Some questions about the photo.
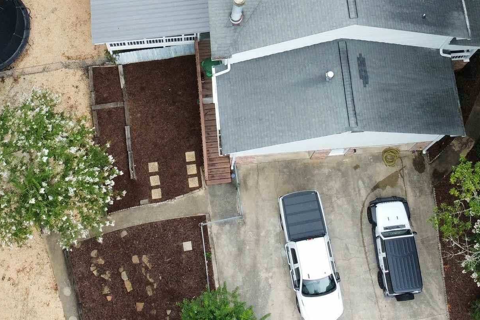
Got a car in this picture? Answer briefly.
Yes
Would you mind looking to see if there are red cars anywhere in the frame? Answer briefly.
No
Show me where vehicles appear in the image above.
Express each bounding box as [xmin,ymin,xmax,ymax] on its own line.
[274,189,346,320]
[368,195,422,296]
